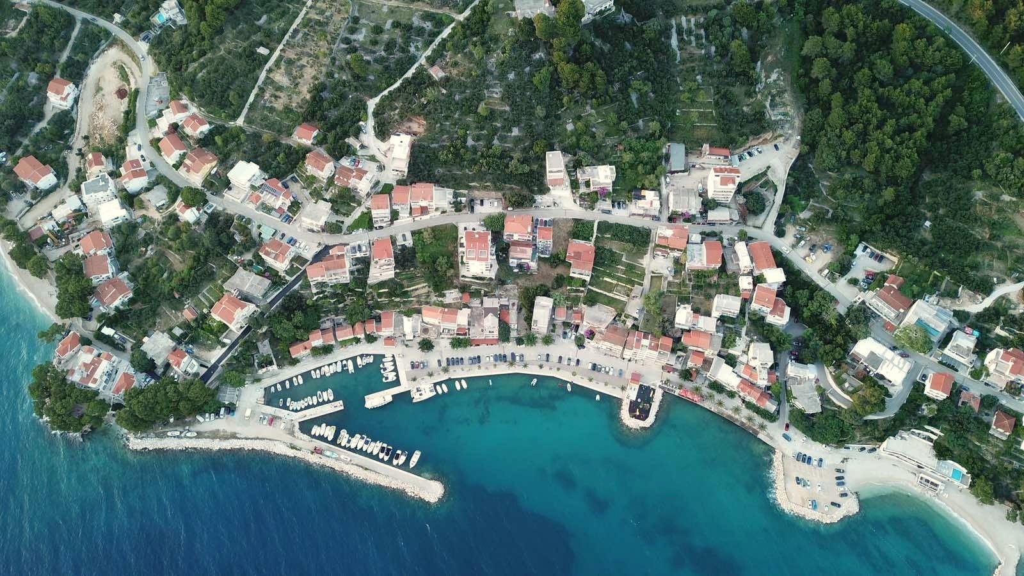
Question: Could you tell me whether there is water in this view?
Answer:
Yes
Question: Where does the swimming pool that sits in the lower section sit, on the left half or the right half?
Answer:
right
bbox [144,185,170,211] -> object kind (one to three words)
house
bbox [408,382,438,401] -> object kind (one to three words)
boat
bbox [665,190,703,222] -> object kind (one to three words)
building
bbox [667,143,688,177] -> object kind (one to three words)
shed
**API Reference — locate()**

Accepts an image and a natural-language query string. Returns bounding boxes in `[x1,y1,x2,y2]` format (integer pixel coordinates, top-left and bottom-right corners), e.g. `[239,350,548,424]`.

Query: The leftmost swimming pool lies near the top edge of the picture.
[151,11,169,31]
